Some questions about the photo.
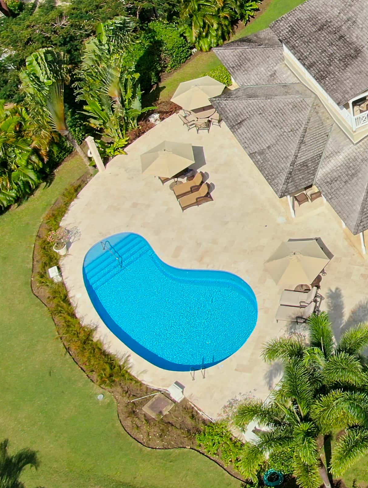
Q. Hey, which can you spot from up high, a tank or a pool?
pool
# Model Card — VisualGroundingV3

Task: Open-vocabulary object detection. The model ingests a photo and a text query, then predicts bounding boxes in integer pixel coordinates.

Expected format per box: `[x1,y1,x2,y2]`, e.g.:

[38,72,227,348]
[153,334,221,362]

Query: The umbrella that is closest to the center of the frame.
[143,146,201,191]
